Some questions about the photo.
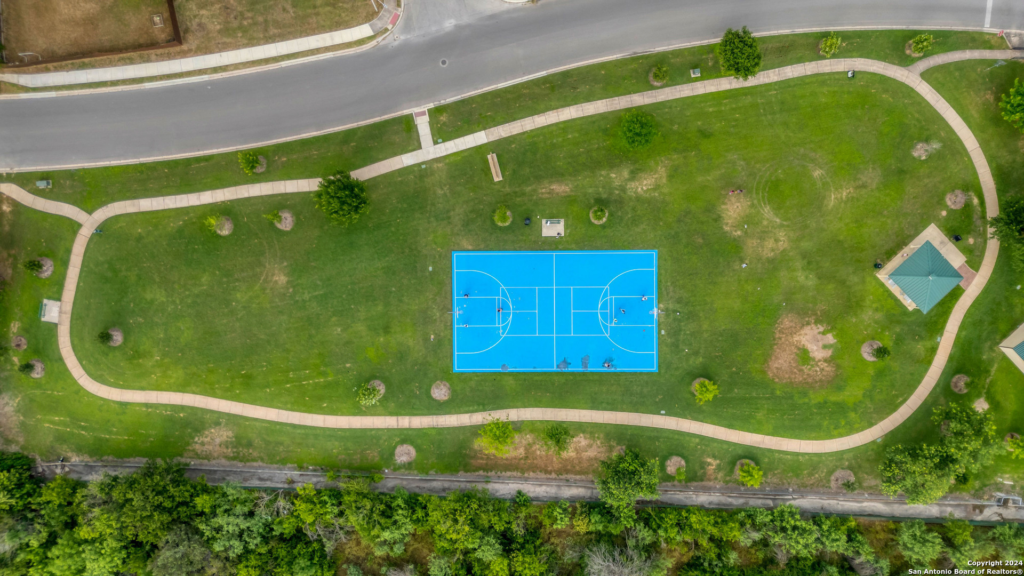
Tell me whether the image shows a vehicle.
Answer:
No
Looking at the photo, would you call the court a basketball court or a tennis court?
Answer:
basketball court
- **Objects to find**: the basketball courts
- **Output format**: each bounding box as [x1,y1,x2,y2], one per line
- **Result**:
[453,250,658,373]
